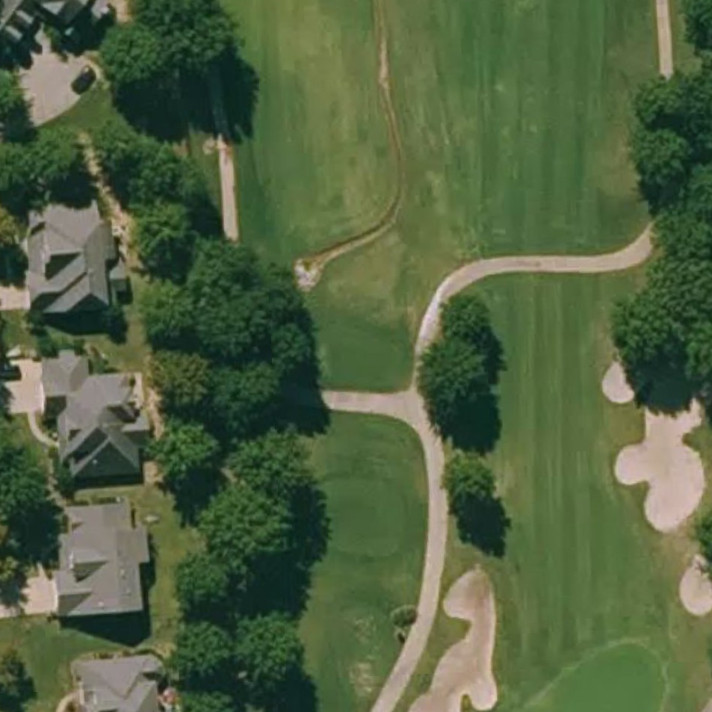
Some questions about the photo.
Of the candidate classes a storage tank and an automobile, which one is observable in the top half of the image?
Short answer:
automobile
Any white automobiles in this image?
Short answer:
No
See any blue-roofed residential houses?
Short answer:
No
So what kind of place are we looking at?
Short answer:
golf course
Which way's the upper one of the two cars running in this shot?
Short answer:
diagonally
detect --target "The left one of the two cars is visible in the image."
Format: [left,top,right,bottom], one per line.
[0,365,23,378]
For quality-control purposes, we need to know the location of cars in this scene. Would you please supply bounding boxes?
[70,67,96,95]
[0,365,23,378]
